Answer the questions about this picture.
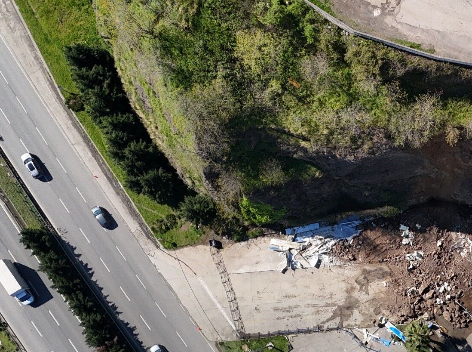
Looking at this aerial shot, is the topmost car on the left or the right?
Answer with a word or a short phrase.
left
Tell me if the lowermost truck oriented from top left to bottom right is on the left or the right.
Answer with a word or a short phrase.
left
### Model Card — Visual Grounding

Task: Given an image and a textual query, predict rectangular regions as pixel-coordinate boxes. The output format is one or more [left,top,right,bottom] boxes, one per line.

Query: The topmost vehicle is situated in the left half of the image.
[22,153,44,181]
